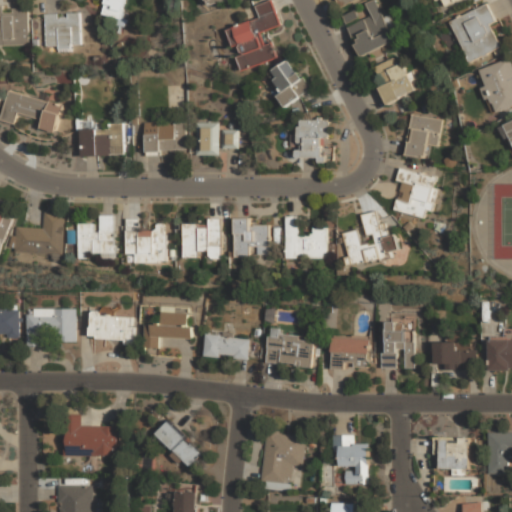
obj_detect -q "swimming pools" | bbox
[274,310,296,325]
[444,477,479,492]
[355,311,370,336]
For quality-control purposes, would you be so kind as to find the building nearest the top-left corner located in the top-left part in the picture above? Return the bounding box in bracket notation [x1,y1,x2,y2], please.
[0,12,30,46]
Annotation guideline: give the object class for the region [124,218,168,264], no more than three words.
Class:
house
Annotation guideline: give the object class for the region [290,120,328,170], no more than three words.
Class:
house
